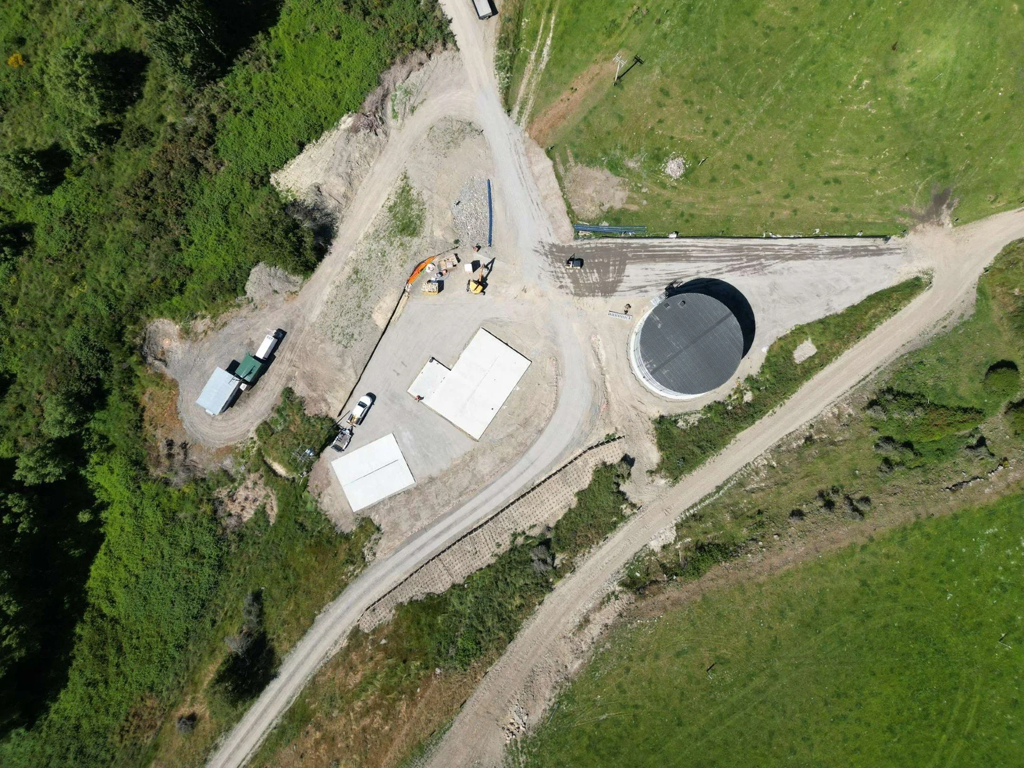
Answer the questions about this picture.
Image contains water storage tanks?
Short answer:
Yes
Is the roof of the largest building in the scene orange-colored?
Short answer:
No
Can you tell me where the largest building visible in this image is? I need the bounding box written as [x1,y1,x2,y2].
[191,367,239,414]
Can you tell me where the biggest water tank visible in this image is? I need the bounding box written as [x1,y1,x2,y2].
[630,285,744,397]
